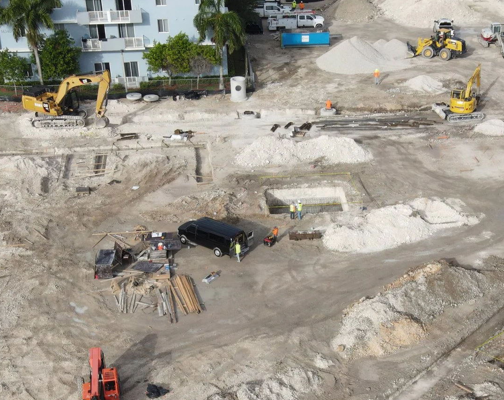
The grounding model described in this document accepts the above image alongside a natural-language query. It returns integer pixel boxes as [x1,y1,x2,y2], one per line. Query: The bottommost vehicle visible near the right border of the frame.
[439,51,482,115]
